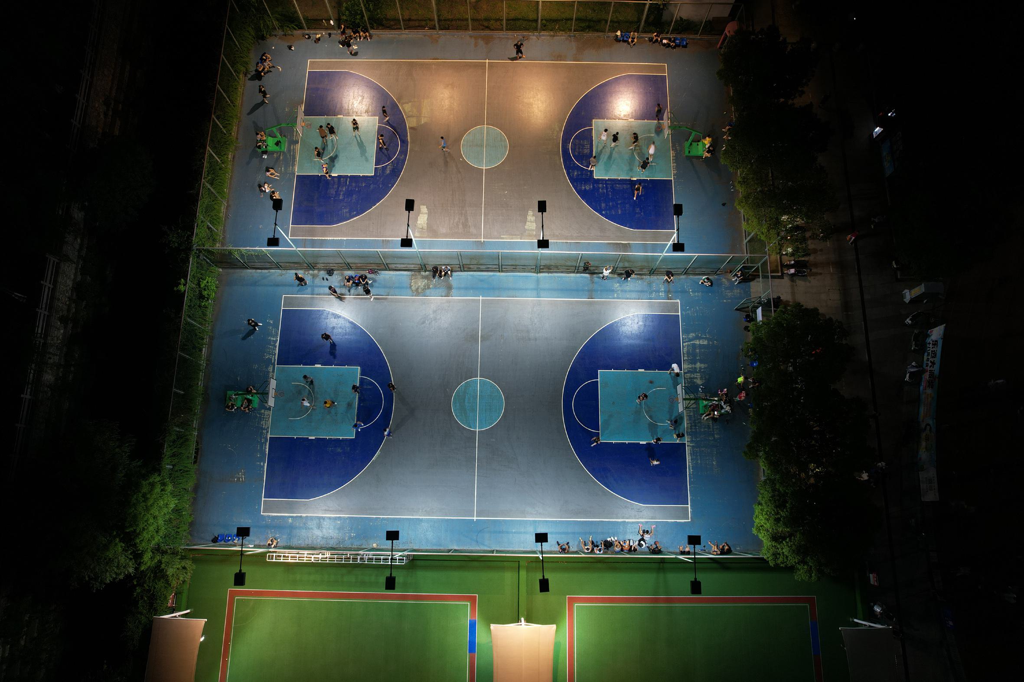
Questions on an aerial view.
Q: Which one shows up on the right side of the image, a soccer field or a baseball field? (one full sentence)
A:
You can see a soccer field on the right side of the image.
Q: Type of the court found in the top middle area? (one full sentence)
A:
The court found in the top middle area in the image is a basketball court.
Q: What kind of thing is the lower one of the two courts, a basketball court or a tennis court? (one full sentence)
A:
It looks like the lower one of the two courts is a basketball court.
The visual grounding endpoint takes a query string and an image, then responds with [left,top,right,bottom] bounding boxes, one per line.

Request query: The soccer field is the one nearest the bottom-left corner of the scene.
[217,590,477,682]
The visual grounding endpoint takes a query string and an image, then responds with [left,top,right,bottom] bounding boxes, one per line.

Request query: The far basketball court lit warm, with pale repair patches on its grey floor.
[217,37,747,273]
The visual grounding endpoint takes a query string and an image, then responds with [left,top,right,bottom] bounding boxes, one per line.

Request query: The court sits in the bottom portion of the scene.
[180,270,768,552]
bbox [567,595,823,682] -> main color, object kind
green soccer field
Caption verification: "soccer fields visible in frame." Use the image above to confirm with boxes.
[567,595,823,682]
[217,590,477,682]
